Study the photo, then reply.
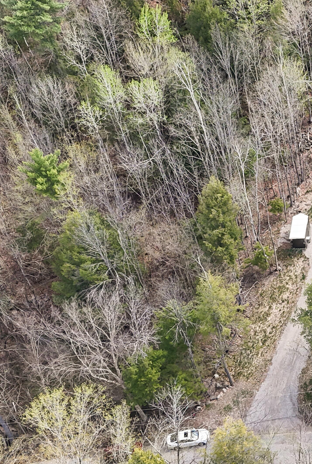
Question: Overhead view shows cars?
Yes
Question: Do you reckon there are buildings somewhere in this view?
No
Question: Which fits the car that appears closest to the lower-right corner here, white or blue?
white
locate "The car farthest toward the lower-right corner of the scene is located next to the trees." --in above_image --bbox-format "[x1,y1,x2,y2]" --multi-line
[165,427,210,451]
